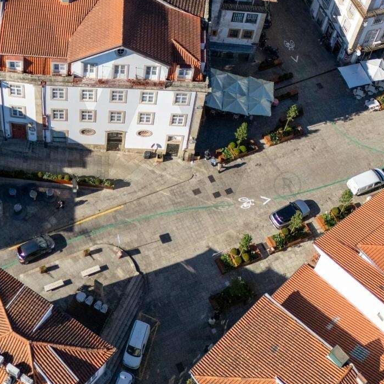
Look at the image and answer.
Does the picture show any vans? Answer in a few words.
Yes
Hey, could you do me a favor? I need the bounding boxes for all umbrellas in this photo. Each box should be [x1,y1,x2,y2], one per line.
[224,91,249,120]
[207,70,231,91]
[246,97,271,125]
[228,75,252,95]
[269,97,282,116]
[151,142,165,161]
[203,87,228,115]
[359,60,384,87]
[337,65,372,92]
[249,79,273,101]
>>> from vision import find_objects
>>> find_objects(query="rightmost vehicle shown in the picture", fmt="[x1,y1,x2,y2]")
[346,168,384,196]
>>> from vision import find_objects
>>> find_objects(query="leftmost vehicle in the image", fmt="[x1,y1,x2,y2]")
[12,233,57,265]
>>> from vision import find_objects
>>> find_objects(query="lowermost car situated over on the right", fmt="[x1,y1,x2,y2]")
[272,200,313,229]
